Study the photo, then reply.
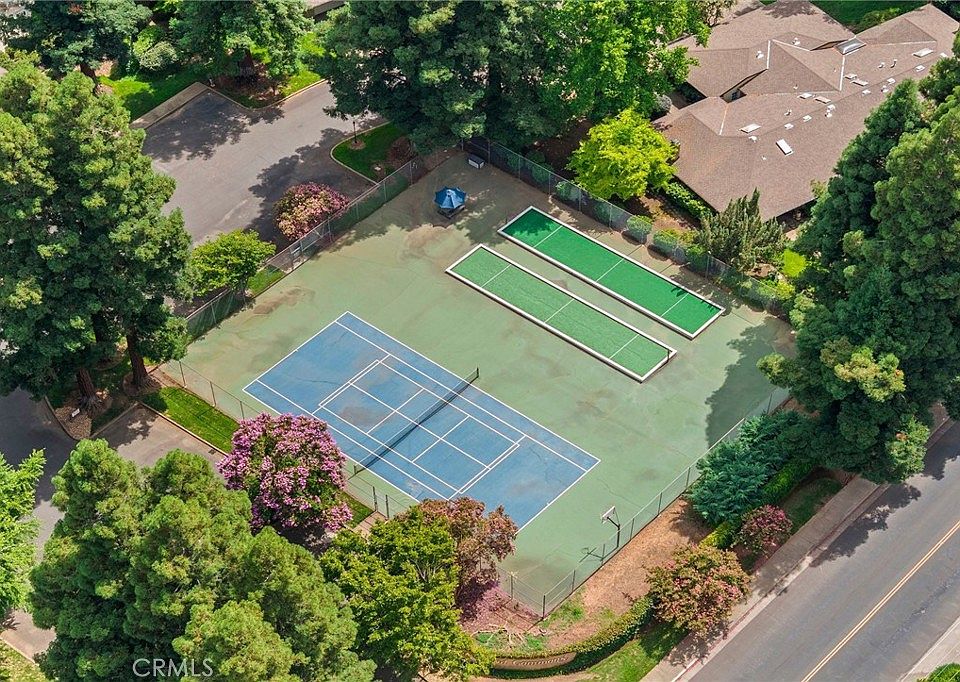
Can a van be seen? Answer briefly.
No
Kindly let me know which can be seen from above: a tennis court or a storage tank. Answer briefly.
tennis court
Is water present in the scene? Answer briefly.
No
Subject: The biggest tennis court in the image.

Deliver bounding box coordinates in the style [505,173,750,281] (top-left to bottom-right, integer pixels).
[243,311,600,553]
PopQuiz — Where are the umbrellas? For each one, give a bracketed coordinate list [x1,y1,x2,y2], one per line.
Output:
[433,187,466,207]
